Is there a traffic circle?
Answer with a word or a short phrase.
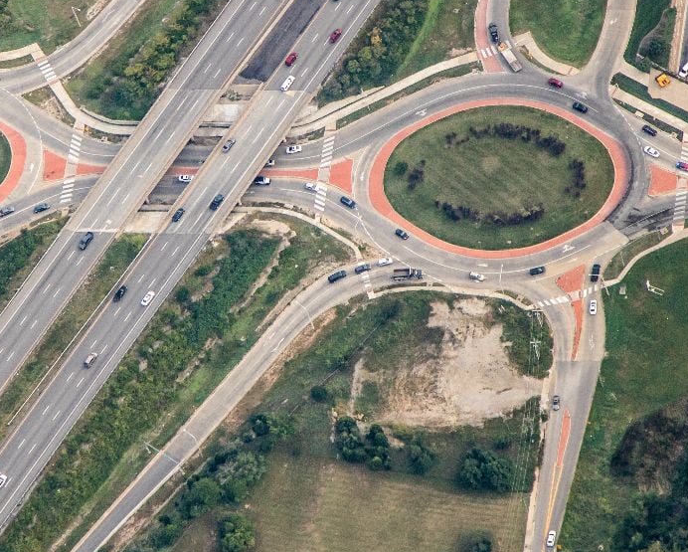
Yes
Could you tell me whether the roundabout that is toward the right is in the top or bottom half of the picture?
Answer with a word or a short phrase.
top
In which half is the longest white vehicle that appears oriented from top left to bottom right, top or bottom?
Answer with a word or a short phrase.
top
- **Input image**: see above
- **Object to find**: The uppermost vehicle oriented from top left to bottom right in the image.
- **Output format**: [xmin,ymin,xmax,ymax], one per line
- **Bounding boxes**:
[500,43,520,68]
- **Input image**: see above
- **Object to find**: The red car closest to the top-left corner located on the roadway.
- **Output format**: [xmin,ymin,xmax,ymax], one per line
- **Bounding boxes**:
[285,51,299,67]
